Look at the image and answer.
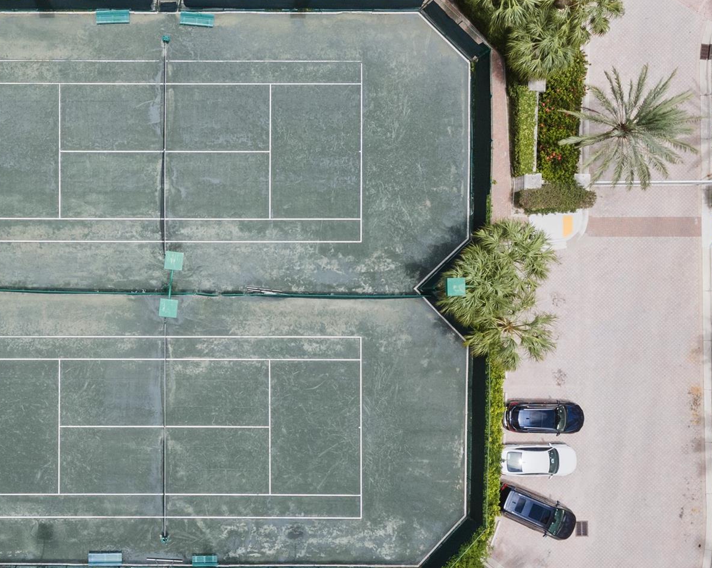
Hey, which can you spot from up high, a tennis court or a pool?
tennis court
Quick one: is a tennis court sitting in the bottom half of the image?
Yes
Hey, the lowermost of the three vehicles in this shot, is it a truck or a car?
car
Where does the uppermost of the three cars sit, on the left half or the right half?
right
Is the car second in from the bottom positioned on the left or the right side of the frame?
right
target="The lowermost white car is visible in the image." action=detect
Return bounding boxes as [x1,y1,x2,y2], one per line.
[497,442,576,480]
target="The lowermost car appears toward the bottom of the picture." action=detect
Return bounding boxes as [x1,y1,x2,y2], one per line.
[494,482,578,539]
